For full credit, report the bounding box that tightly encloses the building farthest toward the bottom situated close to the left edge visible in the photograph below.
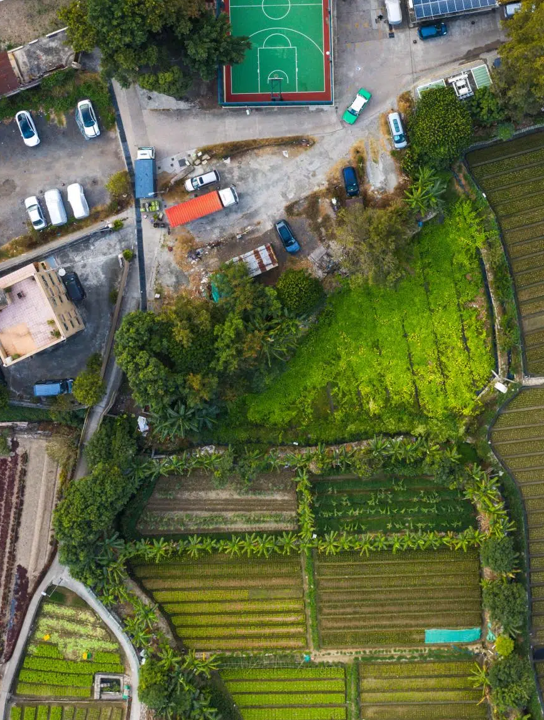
[0,263,85,367]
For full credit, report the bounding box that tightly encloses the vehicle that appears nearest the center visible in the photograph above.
[274,218,298,253]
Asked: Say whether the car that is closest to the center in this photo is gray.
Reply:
No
